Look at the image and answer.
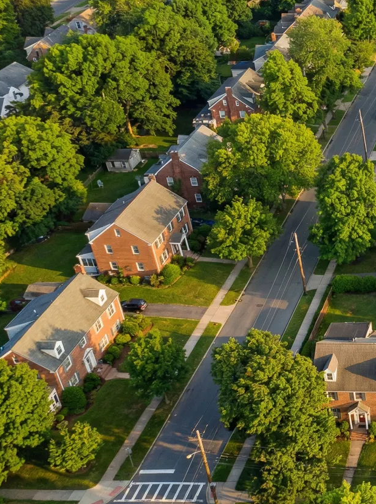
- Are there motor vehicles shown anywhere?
Yes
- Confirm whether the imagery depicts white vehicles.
No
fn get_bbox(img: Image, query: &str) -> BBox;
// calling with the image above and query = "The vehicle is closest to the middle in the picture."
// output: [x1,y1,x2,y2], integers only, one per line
[118,294,153,311]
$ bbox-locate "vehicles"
[5,294,30,312]
[118,294,153,311]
